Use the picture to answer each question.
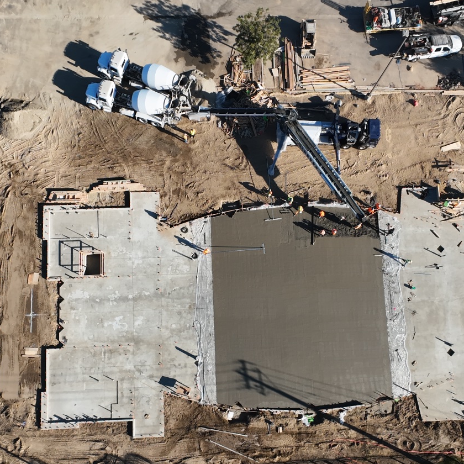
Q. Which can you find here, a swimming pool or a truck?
truck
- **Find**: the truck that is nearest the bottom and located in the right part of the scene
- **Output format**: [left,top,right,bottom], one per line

[187,103,380,220]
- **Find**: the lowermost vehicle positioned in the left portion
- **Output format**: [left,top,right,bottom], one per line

[81,74,204,129]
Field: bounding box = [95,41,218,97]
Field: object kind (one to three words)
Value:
truck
